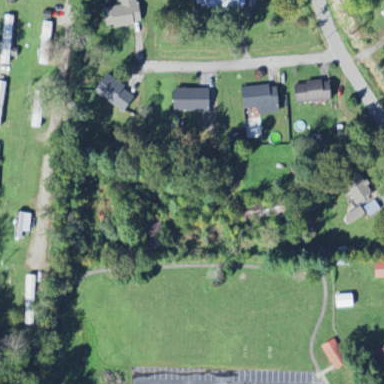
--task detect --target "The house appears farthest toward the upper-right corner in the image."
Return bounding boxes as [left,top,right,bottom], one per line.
[294,79,332,102]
